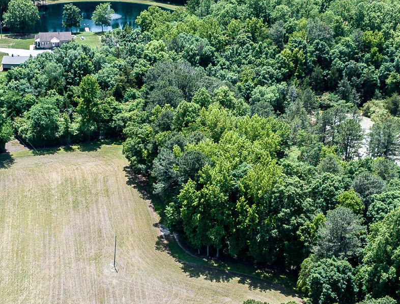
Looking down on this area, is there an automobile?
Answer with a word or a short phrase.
No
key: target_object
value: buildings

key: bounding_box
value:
[33,31,72,49]
[1,56,42,71]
